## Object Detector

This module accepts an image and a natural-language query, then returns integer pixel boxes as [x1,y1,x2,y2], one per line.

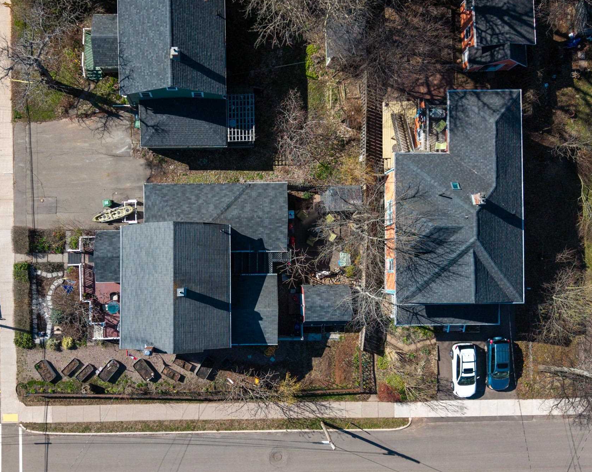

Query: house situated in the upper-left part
[81,0,227,151]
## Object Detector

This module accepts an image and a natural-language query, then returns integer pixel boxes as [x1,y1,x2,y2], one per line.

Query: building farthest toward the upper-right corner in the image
[457,0,537,75]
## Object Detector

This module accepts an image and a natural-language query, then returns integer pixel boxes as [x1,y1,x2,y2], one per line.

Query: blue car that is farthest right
[486,335,515,392]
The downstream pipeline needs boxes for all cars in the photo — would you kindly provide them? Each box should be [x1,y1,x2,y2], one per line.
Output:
[486,335,515,392]
[452,341,482,399]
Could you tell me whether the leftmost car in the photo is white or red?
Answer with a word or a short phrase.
white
